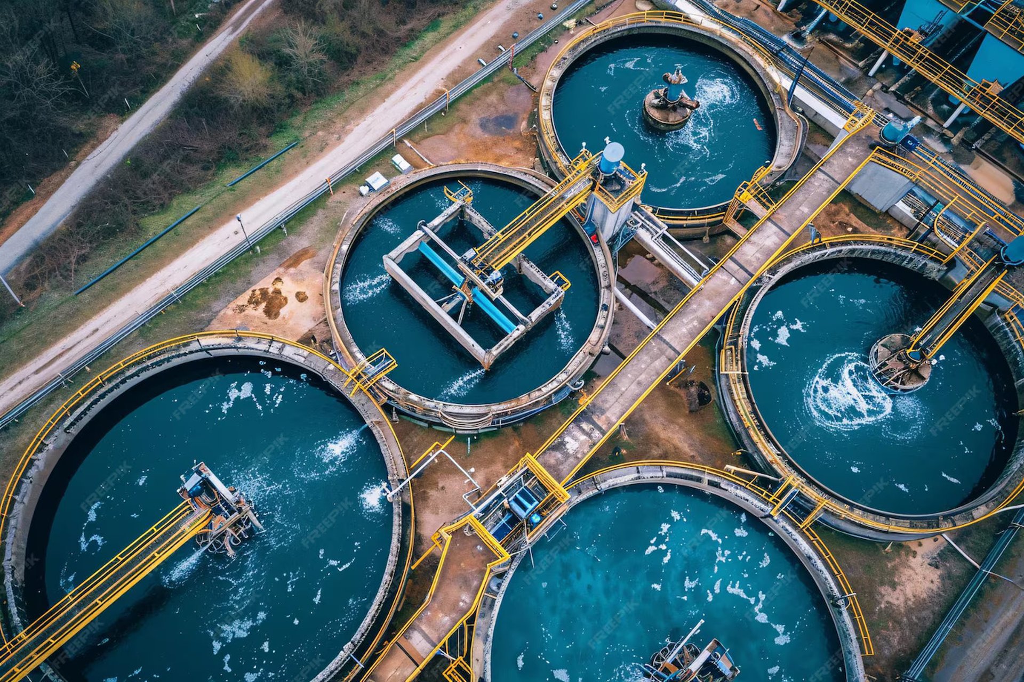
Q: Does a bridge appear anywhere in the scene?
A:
Yes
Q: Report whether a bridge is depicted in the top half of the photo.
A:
Yes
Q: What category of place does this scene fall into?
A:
industrial area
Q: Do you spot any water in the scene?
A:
Yes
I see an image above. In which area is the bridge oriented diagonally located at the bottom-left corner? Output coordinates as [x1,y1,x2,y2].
[0,501,221,680]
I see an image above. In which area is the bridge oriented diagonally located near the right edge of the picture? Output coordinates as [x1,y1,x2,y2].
[905,248,1024,365]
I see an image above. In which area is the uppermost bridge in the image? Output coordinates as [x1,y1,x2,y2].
[475,162,596,272]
